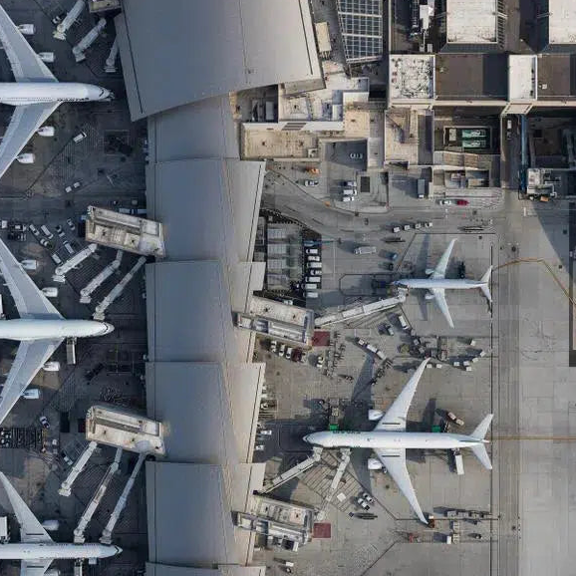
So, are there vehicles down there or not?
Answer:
Yes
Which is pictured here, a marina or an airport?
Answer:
airport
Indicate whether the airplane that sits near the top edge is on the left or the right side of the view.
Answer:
left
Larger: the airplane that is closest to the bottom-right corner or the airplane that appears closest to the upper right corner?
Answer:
the airplane that is closest to the bottom-right corner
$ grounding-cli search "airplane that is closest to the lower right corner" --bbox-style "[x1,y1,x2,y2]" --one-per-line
[305,358,494,523]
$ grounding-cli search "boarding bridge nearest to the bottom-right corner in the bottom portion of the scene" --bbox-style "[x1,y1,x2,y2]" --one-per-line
[317,446,353,526]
